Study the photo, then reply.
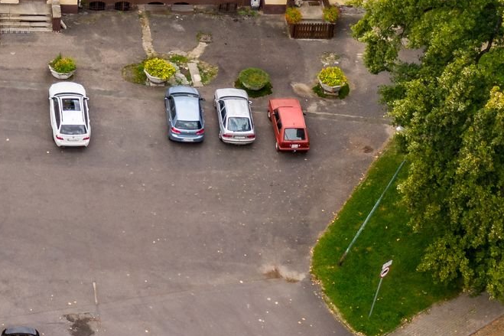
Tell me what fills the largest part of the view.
paved ground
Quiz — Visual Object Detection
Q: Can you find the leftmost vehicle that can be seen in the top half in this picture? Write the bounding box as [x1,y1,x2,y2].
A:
[44,78,90,147]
